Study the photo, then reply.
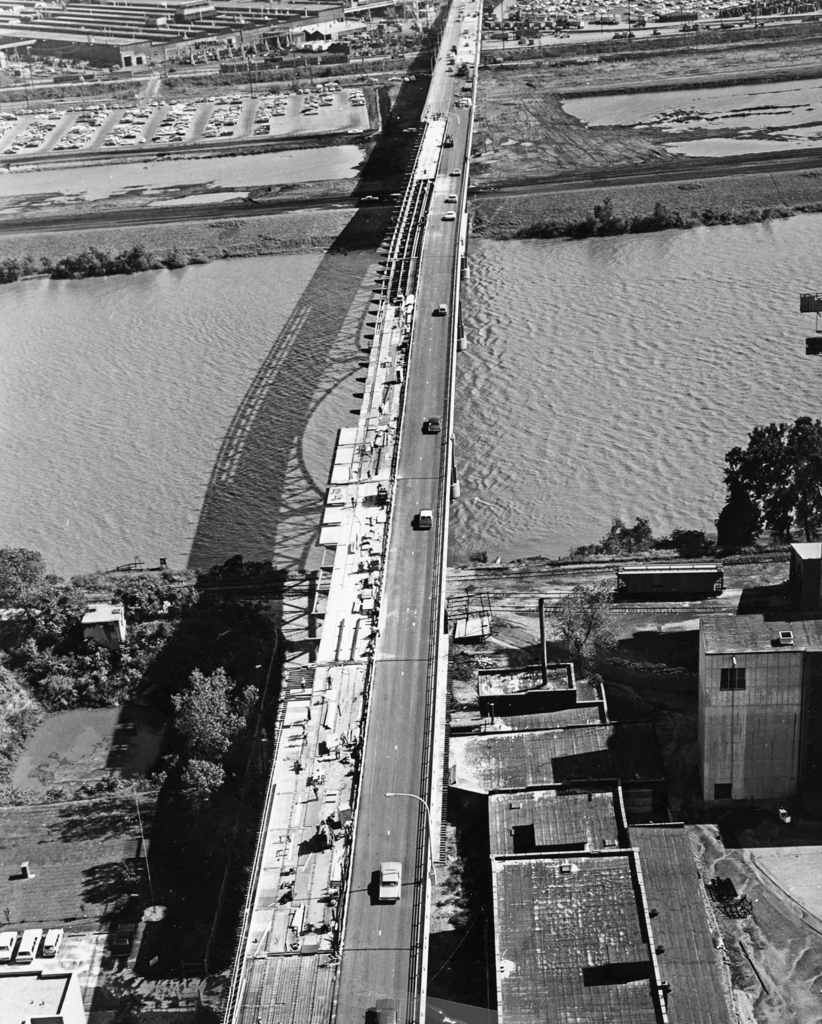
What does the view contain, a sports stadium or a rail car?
rail car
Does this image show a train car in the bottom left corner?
No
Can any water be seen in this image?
Yes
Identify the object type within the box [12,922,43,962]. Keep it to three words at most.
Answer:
car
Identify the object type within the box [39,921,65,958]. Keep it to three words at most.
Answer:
car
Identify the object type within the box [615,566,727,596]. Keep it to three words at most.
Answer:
rail car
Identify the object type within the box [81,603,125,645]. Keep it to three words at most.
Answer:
shed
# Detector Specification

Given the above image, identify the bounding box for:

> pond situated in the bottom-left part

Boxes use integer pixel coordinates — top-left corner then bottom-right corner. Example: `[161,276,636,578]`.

[11,702,172,800]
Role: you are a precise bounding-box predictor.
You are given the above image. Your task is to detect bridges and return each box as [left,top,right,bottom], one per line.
[215,0,483,1024]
